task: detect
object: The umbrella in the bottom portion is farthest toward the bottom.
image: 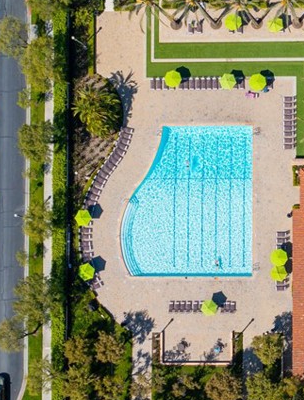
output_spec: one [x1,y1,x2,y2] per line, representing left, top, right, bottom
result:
[202,300,219,316]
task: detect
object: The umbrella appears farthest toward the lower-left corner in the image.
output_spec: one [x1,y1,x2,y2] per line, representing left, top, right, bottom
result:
[79,262,96,279]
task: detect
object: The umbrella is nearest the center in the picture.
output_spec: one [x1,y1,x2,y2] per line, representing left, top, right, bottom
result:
[76,210,92,227]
